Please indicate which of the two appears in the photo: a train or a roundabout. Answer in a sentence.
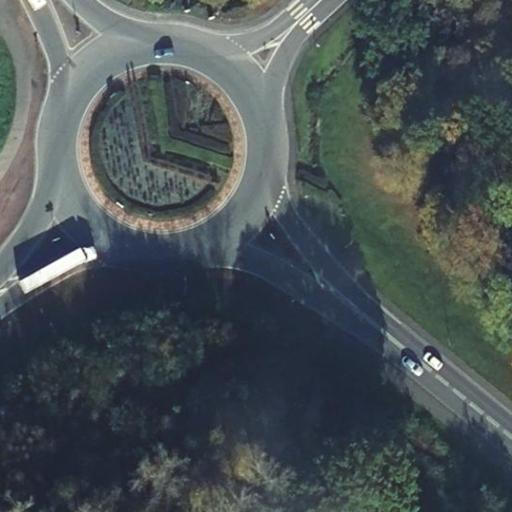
Looking from above, you can make out a roundabout.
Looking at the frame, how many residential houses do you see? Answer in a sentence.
The picture shows no residential houses.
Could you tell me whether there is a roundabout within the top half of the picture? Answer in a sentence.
Yes, looking within the top half of the picture, one can make out a roundabout.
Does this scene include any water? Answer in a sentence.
No, there's no water in this view.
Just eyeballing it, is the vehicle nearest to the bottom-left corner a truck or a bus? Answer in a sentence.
From above, the vehicle nearest to the bottom-left corner can be identified as a truck.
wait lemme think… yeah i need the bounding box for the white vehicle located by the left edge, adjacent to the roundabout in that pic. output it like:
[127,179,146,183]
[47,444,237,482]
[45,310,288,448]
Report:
[18,244,97,294]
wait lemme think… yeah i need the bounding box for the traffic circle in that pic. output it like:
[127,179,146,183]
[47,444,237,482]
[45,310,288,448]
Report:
[50,36,274,260]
